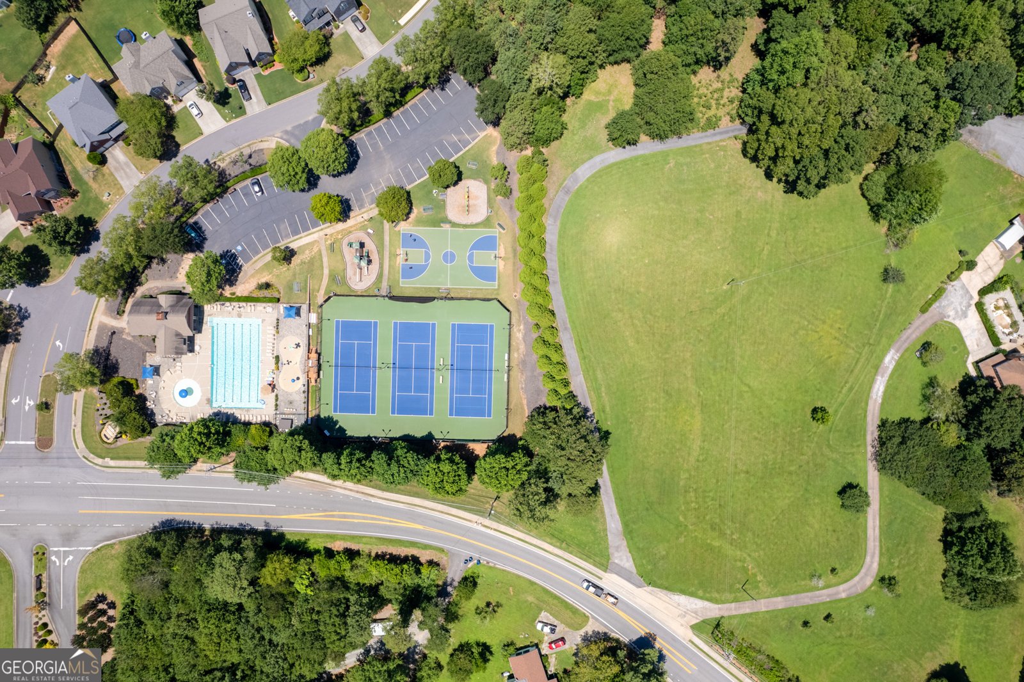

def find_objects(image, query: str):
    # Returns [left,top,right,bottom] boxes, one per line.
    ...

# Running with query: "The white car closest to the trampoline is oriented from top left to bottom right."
[187,100,204,119]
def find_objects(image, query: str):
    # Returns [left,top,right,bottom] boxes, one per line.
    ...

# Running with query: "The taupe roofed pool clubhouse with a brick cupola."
[123,294,207,355]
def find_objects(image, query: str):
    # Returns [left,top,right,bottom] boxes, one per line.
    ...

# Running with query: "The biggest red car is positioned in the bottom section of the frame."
[548,637,567,650]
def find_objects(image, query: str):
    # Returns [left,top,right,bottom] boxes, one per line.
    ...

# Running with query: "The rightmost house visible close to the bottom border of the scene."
[509,646,559,682]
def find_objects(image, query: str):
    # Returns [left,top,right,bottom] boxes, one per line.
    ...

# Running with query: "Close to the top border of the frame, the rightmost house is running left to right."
[287,0,361,34]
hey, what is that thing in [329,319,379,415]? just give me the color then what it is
blue tennis court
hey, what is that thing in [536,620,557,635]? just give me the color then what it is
white vehicle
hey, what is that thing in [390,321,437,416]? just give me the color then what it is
blue tennis court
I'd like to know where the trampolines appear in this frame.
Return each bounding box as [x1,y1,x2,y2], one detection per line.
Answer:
[117,28,136,46]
